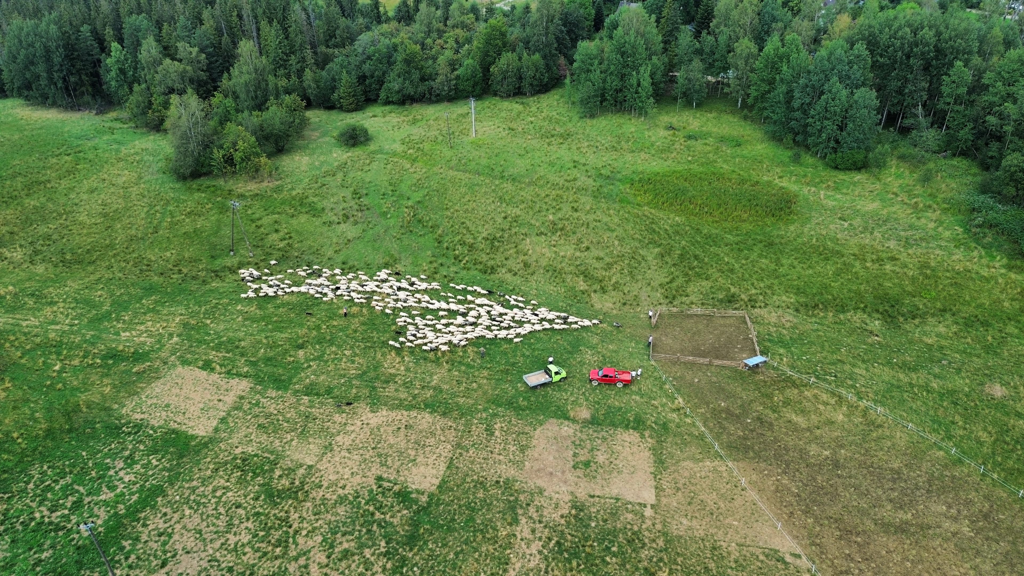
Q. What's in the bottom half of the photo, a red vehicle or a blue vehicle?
red vehicle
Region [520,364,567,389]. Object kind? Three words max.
truck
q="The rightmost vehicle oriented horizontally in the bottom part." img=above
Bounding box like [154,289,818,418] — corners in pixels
[587,367,630,388]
